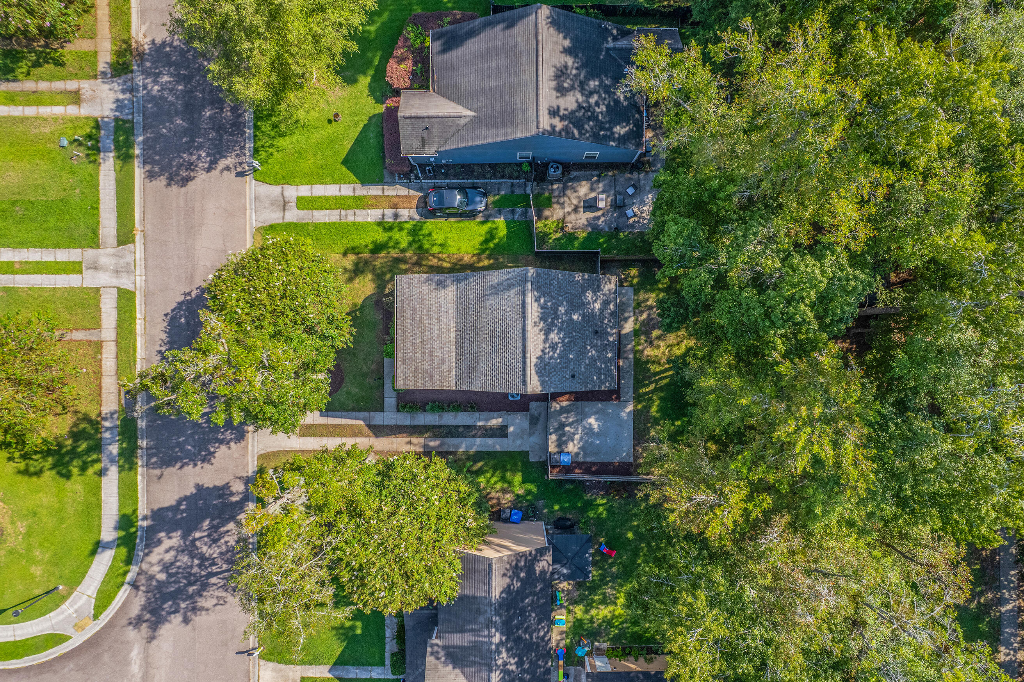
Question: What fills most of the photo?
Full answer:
The bulk of the photo consists of trees.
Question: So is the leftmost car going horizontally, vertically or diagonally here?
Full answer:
From this overhead view, the leftmost car appears to run horizontally.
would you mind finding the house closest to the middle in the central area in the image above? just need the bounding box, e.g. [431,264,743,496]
[394,268,620,394]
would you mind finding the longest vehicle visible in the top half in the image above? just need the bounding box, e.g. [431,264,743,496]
[426,183,488,214]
